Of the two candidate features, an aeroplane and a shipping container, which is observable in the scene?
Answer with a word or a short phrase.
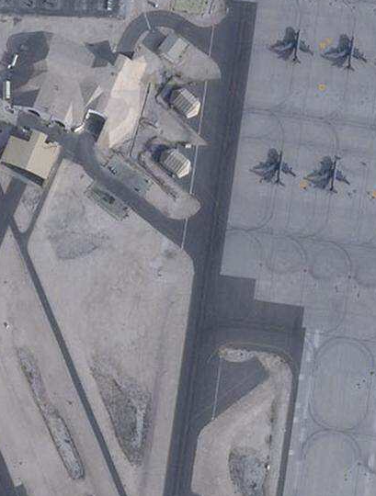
aeroplane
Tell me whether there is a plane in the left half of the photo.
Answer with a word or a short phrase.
No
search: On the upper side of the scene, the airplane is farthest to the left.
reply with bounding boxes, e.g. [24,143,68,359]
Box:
[261,152,296,183]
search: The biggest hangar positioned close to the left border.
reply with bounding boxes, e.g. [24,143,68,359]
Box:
[1,136,62,181]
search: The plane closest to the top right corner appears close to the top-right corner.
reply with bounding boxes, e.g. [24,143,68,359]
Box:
[333,36,368,68]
